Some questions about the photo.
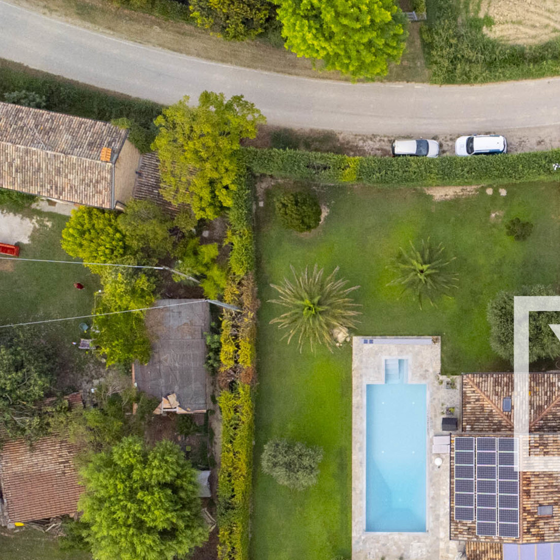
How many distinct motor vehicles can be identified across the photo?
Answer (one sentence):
I count 2 motor vehicles.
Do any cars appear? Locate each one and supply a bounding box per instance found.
[393,138,440,161]
[456,133,508,160]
